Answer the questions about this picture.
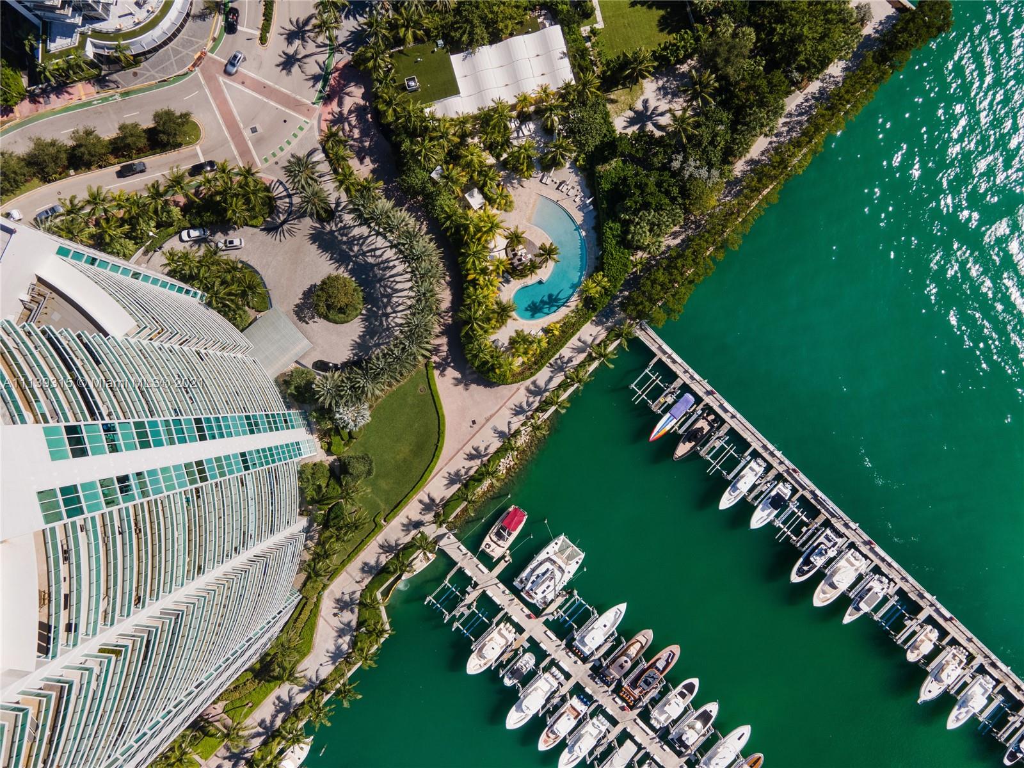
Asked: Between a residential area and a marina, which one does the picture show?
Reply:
marina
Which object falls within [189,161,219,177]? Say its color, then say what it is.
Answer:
black car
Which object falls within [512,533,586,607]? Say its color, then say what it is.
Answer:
white boat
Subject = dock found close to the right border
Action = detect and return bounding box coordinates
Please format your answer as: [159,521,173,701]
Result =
[632,320,1024,740]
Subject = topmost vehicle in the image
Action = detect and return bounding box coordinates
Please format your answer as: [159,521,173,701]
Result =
[225,7,239,35]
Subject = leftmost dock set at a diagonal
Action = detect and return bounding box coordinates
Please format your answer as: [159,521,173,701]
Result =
[436,527,749,768]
